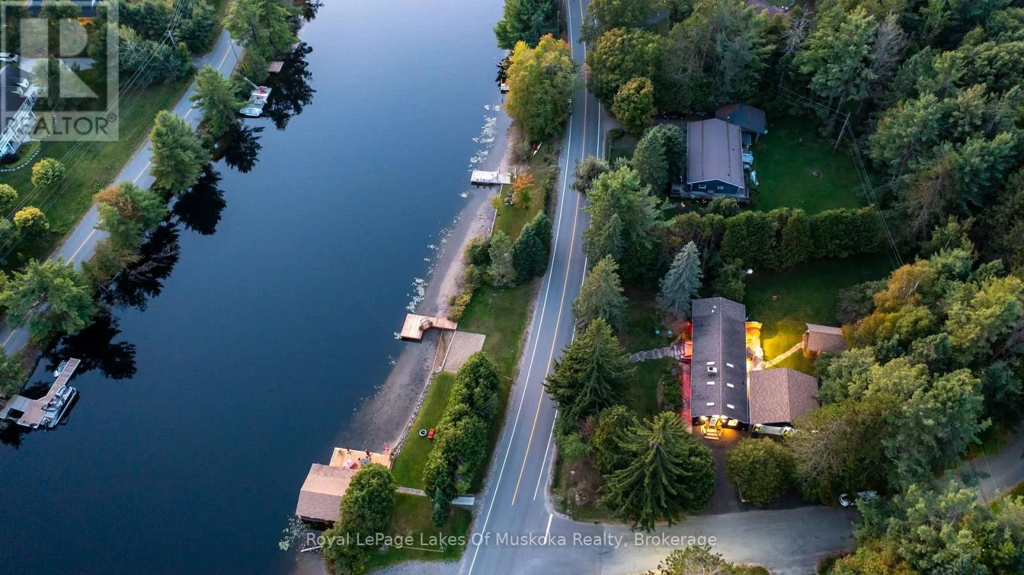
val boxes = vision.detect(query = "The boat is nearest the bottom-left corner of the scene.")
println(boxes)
[42,387,84,430]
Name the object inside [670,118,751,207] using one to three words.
house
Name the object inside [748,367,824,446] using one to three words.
building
